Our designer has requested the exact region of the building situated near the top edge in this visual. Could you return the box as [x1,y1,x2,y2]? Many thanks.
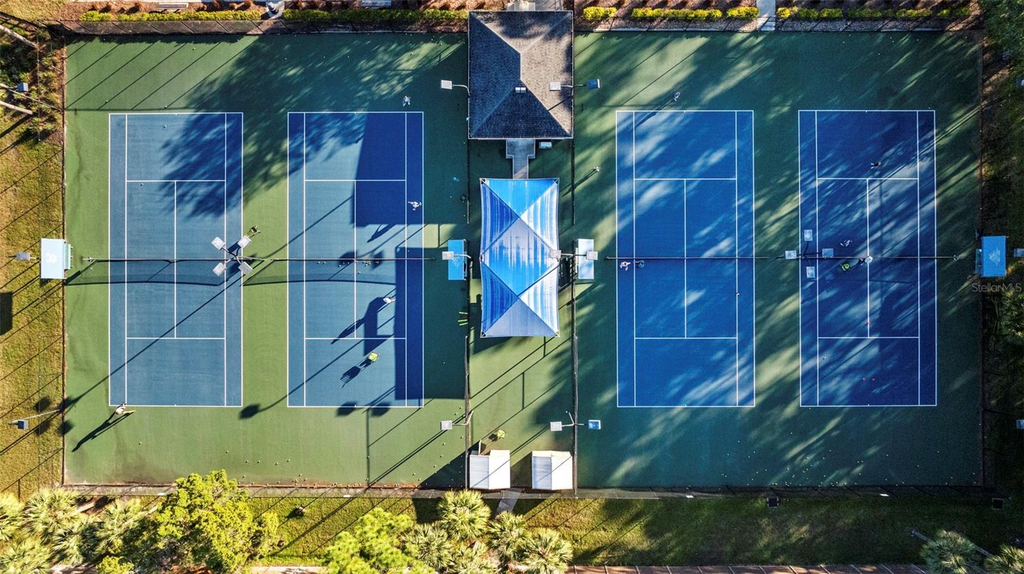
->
[467,8,575,142]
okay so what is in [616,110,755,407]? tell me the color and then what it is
blue tennis court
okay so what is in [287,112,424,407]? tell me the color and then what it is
blue tennis court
